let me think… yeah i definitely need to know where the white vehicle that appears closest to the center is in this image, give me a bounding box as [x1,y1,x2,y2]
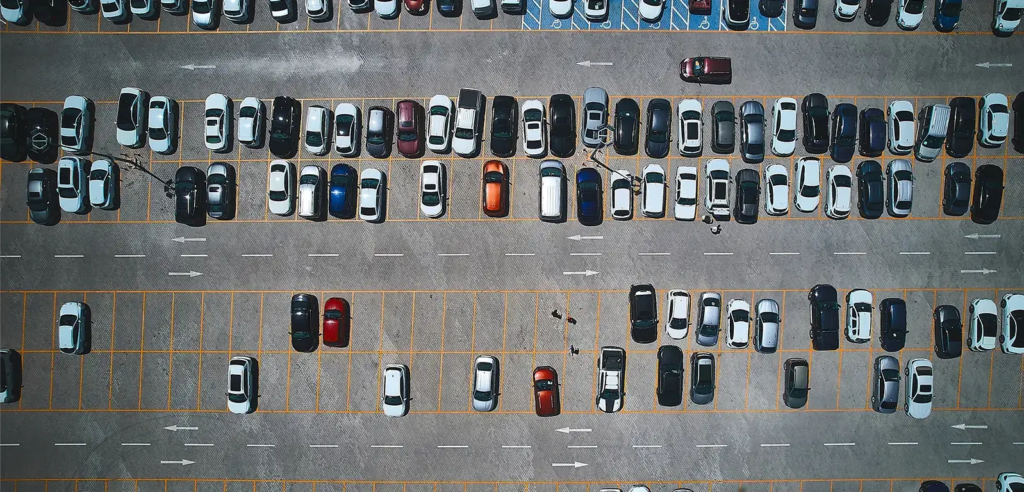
[538,160,565,221]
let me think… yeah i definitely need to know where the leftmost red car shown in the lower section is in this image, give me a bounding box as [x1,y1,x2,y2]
[319,297,347,346]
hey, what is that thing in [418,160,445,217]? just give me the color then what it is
white car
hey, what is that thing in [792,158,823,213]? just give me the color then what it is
white car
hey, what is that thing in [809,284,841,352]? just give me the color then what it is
black truck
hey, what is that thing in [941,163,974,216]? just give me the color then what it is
black car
